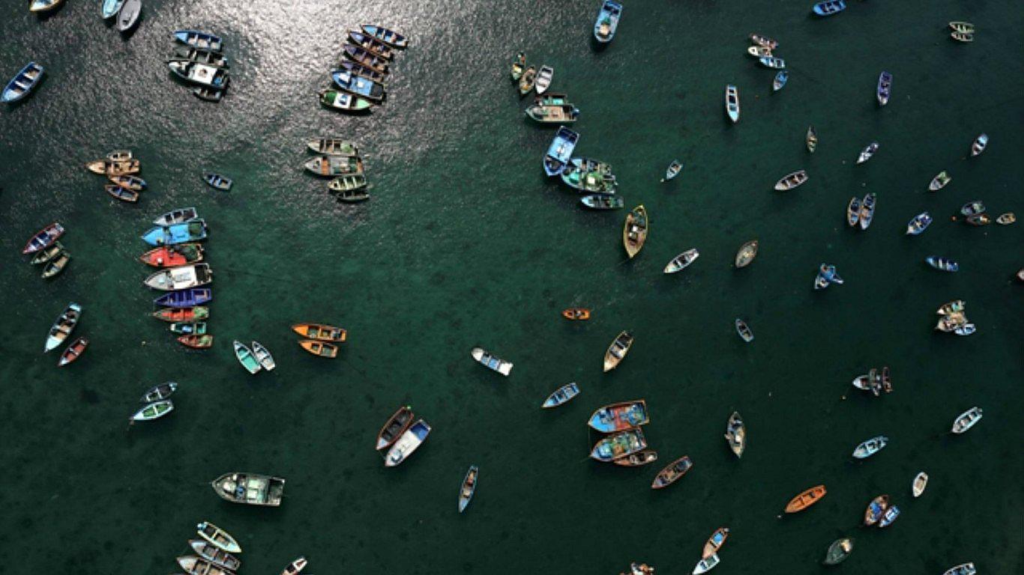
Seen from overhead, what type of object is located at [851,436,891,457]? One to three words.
boat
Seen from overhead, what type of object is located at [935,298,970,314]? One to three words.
boat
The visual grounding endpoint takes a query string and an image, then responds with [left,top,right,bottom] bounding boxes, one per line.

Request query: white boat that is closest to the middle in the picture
[471,347,514,376]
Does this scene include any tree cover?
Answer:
No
